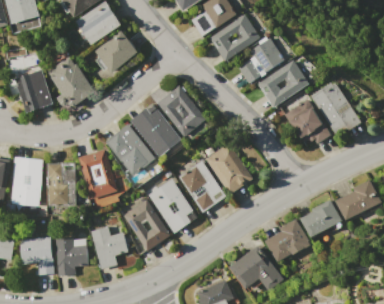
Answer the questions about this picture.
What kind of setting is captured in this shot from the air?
residential area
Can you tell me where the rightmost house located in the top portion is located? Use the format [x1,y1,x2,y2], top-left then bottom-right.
[312,82,362,134]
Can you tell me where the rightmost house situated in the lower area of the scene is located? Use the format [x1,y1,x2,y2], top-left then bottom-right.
[336,180,382,220]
